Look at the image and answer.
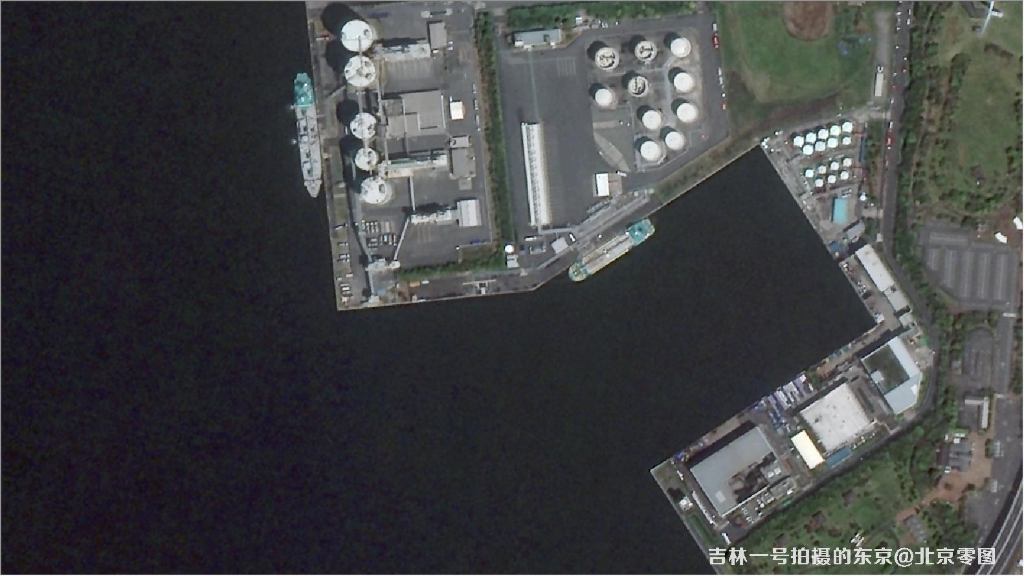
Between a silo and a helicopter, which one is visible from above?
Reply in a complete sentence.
Visible in the photo is a silo.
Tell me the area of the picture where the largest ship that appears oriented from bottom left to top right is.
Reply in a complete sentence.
The largest ship that appears oriented from bottom left to top right is in the center part of the image.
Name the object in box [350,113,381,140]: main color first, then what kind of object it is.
white silo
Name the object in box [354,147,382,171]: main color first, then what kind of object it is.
white silo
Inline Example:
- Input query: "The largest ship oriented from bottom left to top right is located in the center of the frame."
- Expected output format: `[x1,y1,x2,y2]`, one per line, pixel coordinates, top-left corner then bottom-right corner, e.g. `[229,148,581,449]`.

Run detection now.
[557,214,655,281]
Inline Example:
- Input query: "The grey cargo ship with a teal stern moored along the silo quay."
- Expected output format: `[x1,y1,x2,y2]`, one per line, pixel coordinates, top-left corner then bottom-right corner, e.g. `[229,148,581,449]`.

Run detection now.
[294,70,326,197]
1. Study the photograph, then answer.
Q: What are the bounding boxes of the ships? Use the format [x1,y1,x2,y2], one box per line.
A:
[557,214,655,281]
[294,70,326,197]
